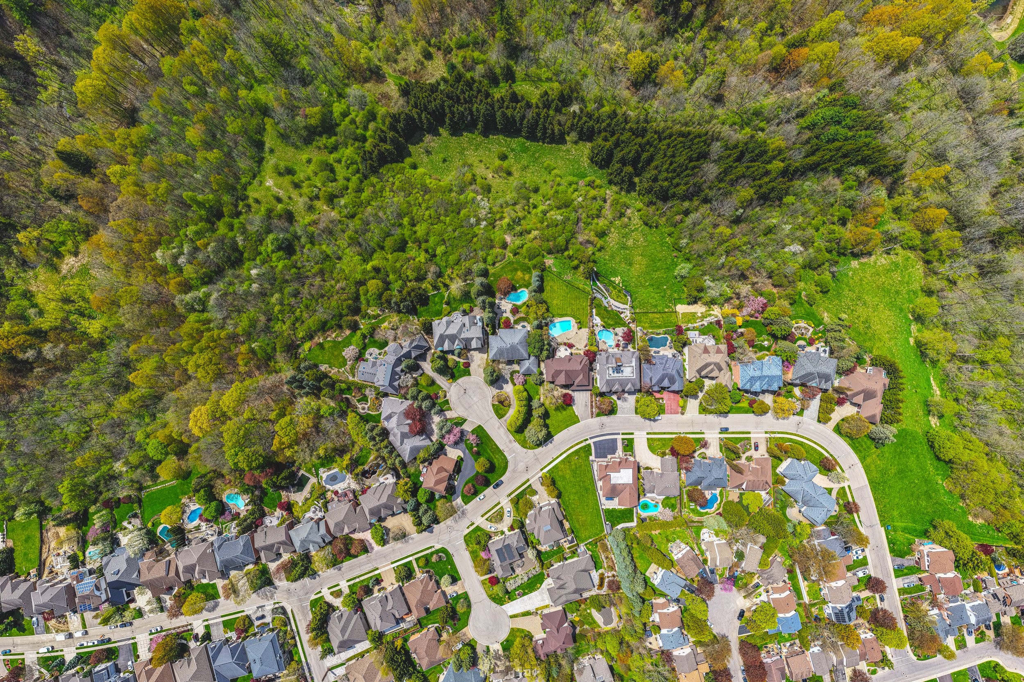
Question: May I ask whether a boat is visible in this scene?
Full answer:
No, this view has no boat in it.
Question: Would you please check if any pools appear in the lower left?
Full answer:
Yes, a pool shows up in the lower left.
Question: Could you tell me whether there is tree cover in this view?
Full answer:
Yes, the picture does contain tree cover.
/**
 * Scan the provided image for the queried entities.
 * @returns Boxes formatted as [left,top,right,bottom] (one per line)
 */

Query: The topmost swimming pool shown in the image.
[505,289,530,304]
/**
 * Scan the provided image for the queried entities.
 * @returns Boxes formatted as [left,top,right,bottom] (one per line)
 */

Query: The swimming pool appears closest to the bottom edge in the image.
[596,607,615,628]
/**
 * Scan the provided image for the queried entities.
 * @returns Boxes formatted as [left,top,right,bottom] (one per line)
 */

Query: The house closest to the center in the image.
[489,328,538,374]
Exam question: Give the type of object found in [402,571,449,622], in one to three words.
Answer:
house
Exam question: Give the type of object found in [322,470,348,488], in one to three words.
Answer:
swimming pool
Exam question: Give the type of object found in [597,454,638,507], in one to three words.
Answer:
house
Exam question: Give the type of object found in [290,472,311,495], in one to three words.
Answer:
swimming pool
